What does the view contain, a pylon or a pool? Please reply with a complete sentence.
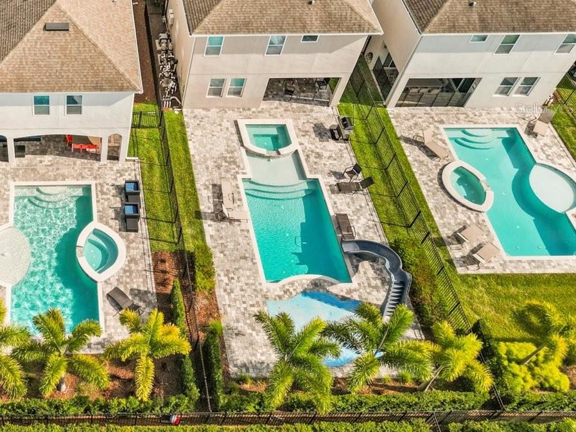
Looking from above, you can make out a pool.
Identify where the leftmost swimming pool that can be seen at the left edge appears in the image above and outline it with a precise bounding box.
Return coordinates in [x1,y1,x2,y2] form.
[0,180,125,341]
